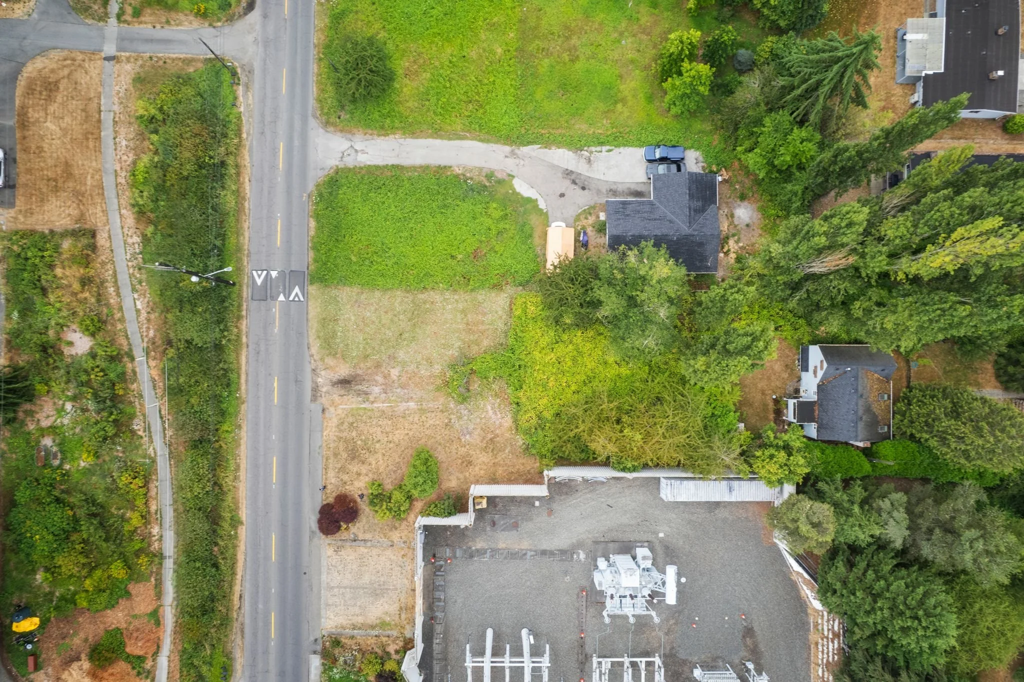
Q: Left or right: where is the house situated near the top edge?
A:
right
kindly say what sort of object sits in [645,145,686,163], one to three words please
vehicle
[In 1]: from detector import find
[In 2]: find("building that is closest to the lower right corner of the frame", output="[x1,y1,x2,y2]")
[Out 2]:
[782,344,897,448]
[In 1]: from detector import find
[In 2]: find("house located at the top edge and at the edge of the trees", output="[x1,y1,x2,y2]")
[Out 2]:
[895,0,1021,117]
